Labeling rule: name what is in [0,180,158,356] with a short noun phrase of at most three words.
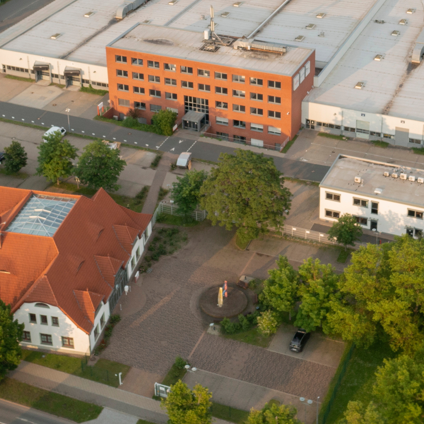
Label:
house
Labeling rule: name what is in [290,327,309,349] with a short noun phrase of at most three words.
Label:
car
